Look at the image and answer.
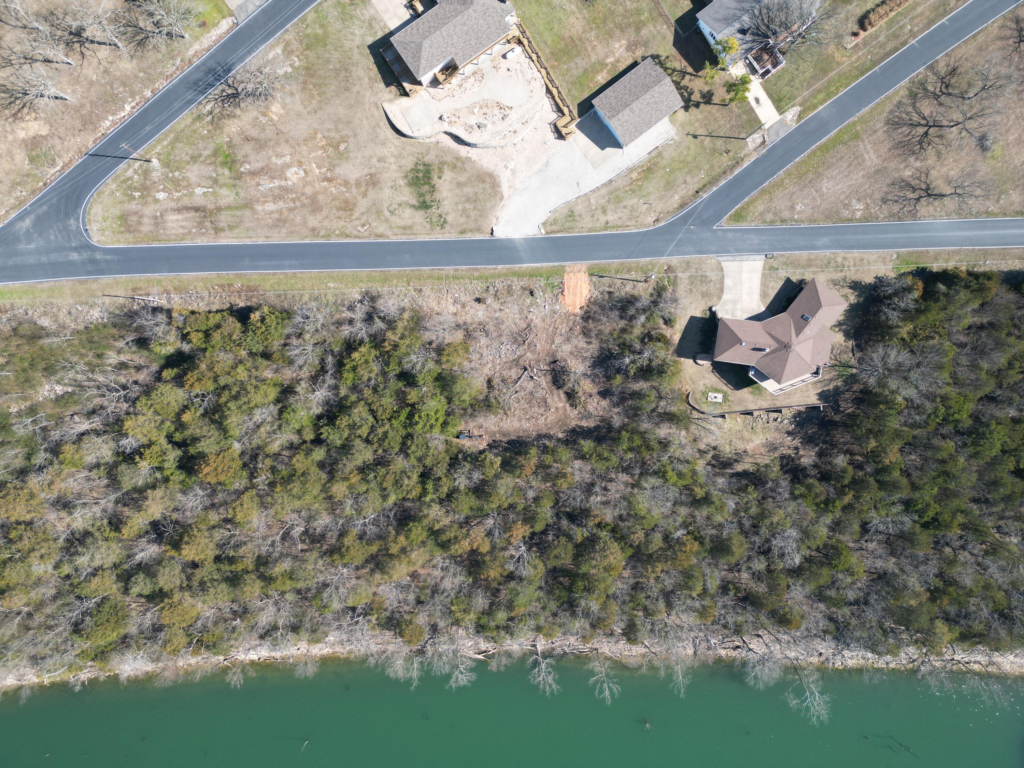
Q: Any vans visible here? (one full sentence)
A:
No, there is no van in the image.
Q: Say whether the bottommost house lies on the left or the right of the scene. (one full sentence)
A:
You can find the bottommost house on the right side of the picture.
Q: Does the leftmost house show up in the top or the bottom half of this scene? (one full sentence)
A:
The leftmost house is in the top half of the image.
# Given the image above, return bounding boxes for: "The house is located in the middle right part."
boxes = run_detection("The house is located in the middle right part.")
[710,277,849,395]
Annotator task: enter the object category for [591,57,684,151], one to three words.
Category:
building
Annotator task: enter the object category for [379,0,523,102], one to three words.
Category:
house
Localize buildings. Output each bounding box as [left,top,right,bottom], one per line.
[379,0,523,102]
[591,57,684,151]
[710,277,849,395]
[695,0,822,85]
